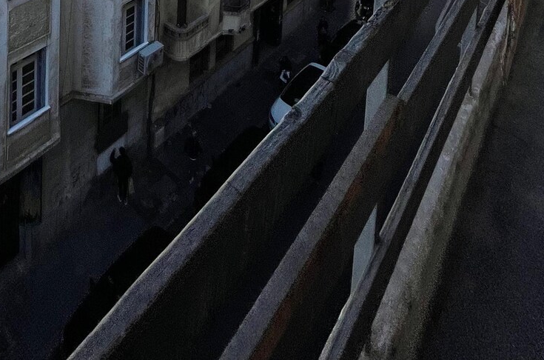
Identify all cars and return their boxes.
[120,140,278,340]
[3,284,120,360]
[257,52,358,141]
[318,1,372,60]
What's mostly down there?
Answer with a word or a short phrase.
buildings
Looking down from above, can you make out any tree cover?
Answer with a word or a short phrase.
No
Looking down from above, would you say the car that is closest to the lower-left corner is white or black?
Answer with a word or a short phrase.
black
